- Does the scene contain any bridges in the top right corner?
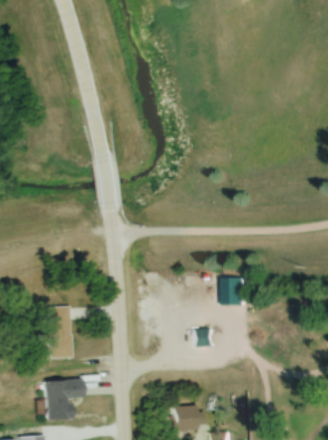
No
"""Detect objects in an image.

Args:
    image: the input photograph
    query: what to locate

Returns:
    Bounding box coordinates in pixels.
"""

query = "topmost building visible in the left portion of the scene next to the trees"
[51,306,73,358]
